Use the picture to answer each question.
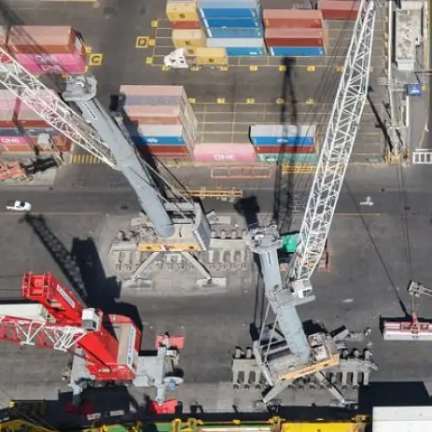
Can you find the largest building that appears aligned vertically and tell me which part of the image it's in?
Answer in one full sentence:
Look in the top right portion of the view to spot the largest building that appears aligned vertically.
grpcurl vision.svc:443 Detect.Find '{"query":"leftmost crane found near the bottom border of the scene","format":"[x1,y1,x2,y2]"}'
[0,272,188,432]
